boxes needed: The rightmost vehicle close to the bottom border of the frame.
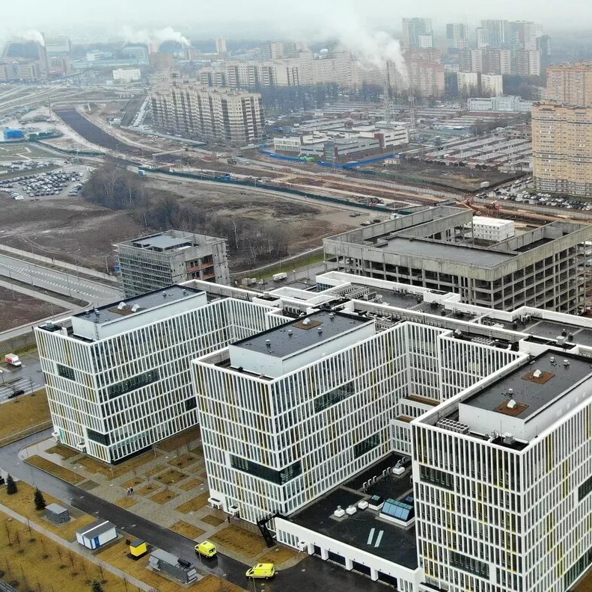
[245,559,277,578]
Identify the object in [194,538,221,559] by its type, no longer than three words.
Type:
vehicle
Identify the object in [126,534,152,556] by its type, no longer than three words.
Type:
building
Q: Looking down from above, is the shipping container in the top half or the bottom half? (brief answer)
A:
bottom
